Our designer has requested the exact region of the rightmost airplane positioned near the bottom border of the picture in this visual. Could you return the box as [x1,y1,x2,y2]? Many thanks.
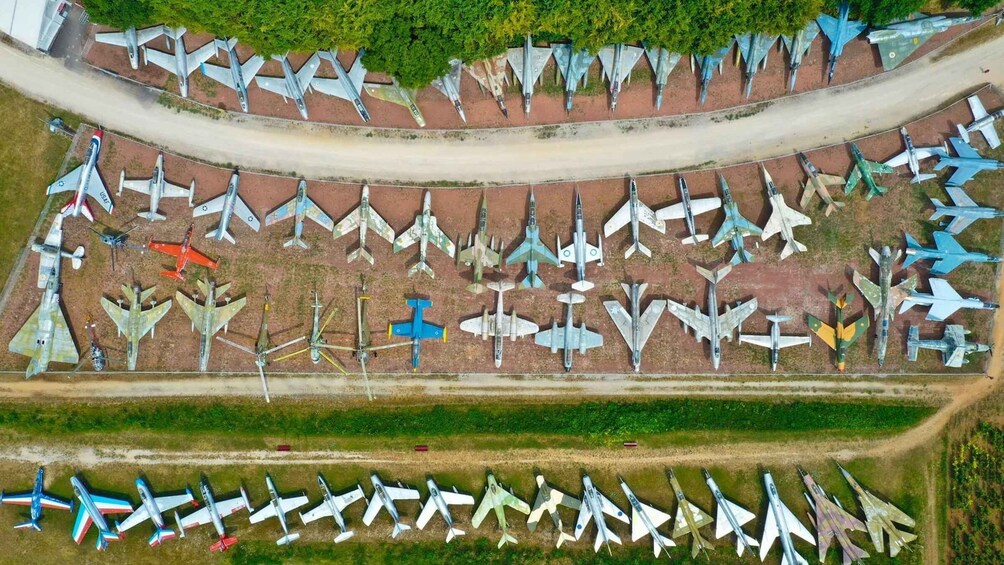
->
[837,464,919,556]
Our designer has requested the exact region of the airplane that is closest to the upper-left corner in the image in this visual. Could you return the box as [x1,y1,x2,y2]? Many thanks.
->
[97,15,165,70]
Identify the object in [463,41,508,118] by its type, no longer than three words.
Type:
airplane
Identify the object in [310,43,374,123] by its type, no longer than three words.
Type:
airplane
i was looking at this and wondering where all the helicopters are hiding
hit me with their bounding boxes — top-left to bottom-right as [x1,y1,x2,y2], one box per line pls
[318,282,413,399]
[71,319,126,374]
[274,289,345,374]
[89,226,147,270]
[217,292,305,401]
